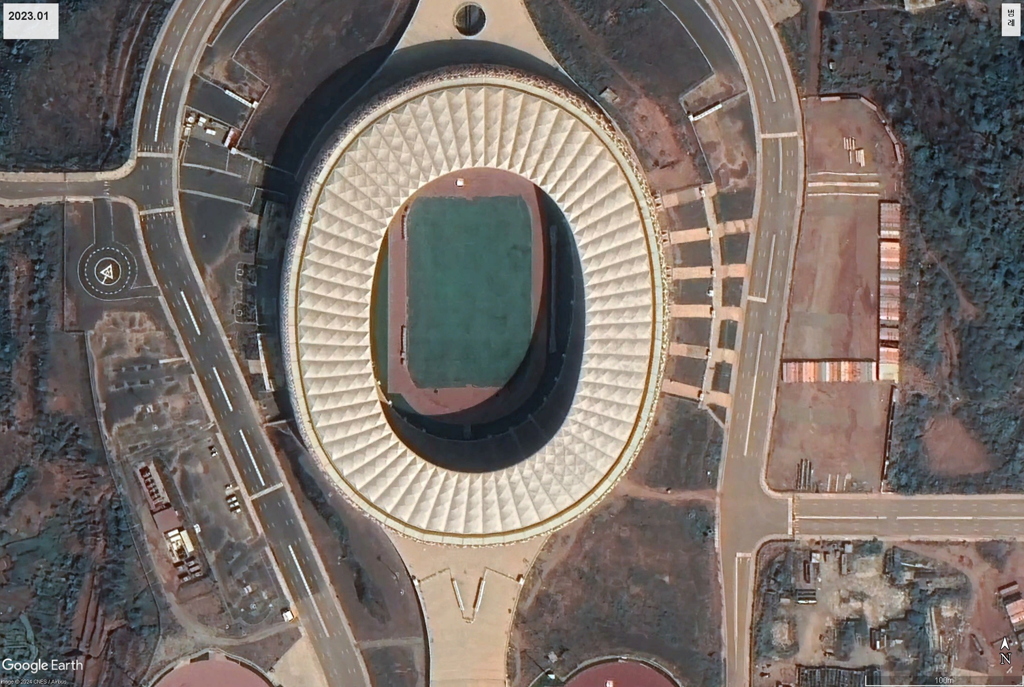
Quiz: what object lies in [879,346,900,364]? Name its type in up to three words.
shed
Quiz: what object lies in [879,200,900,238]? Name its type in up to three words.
shed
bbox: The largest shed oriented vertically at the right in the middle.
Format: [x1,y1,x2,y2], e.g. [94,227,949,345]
[879,241,900,325]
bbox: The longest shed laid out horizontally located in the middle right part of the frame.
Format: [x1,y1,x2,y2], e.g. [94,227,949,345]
[782,359,876,381]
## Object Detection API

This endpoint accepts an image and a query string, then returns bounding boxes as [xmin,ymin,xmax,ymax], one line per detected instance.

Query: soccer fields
[406,195,532,388]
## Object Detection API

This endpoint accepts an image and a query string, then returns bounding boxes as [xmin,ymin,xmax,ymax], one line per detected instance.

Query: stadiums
[277,61,668,550]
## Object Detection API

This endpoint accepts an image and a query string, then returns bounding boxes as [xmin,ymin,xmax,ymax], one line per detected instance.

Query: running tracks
[389,168,546,423]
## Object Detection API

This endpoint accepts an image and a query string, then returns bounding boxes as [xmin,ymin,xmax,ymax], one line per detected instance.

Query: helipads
[78,206,157,301]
